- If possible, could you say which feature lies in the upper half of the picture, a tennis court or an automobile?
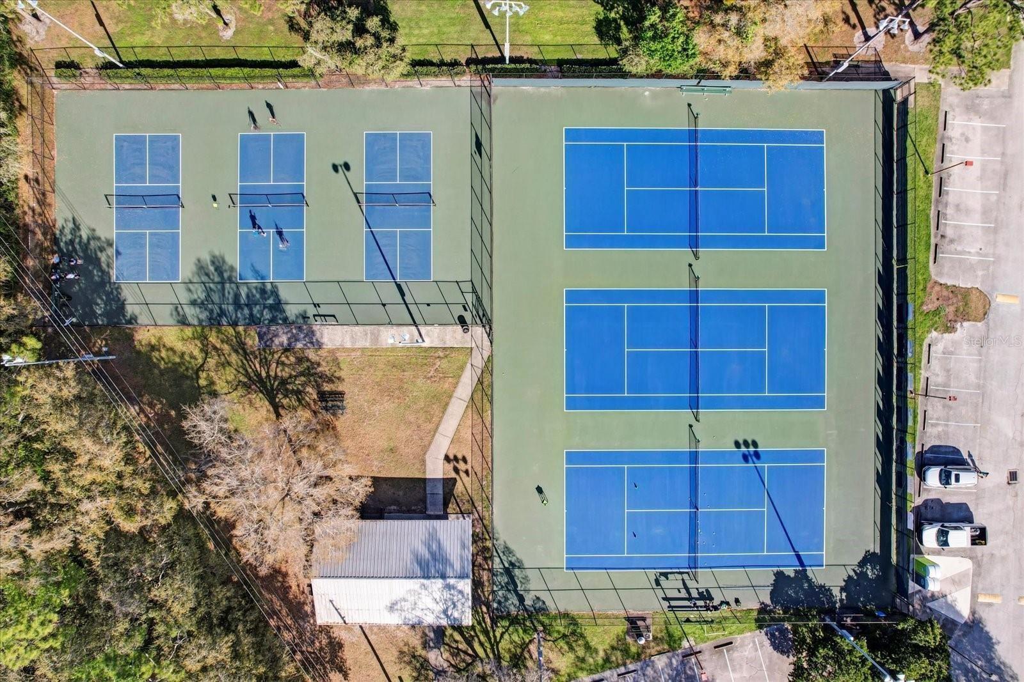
tennis court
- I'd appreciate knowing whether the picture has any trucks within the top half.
No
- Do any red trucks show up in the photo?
No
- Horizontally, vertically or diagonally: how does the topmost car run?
horizontally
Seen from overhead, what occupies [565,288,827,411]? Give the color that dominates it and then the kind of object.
blue tennis court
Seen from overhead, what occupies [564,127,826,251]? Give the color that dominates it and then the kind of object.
blue tennis court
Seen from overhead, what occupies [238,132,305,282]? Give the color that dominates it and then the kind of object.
blue sports court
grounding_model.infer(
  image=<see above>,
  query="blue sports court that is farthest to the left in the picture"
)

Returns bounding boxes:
[114,133,181,282]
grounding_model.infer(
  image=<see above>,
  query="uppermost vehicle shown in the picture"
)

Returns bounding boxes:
[923,463,984,490]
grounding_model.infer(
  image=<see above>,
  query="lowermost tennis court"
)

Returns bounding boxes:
[564,448,827,571]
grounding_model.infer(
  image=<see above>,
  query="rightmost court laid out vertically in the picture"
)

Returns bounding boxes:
[364,131,432,281]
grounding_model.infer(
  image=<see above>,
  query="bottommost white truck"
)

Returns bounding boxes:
[924,523,995,553]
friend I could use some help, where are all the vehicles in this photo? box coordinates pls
[924,523,995,553]
[923,463,984,490]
